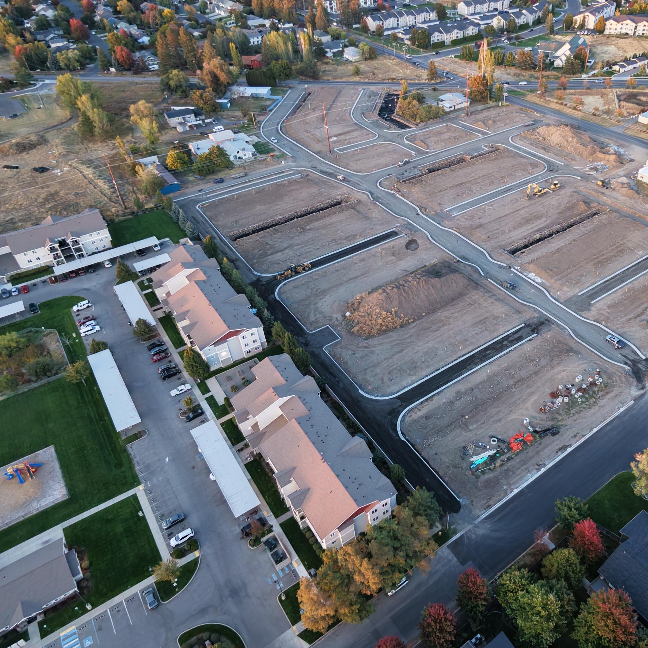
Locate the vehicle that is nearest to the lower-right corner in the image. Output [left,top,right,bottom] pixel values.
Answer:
[605,334,627,347]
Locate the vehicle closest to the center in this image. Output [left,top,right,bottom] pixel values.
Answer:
[277,262,311,278]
